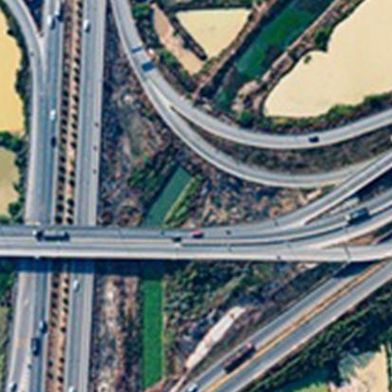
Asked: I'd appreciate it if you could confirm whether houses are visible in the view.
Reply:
No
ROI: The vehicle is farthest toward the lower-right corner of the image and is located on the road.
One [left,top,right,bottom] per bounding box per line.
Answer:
[223,345,255,370]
